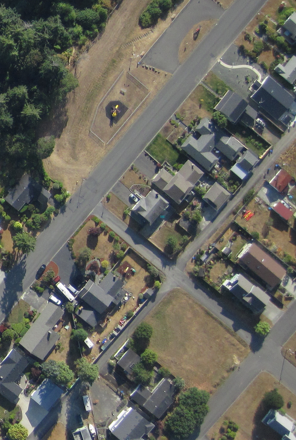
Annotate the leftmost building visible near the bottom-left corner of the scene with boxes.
[0,350,29,405]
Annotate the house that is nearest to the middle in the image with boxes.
[130,188,168,225]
